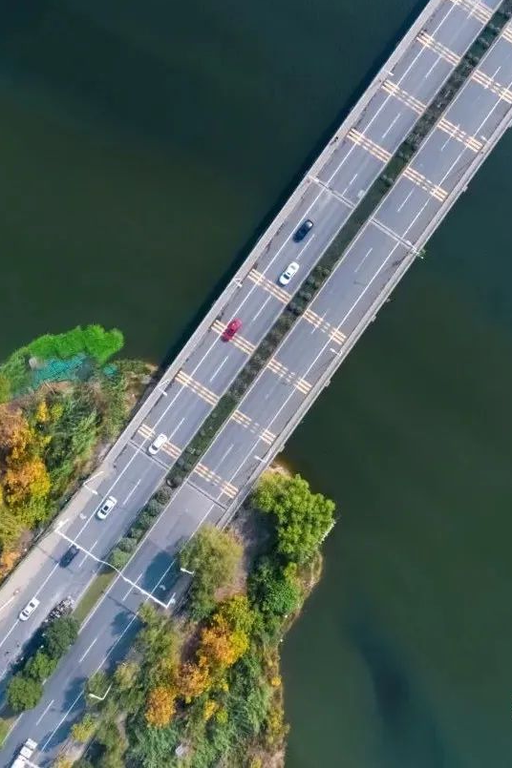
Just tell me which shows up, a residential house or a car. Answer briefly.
car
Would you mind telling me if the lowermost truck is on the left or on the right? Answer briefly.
left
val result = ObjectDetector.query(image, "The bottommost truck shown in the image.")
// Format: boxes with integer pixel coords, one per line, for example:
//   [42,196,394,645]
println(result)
[8,729,45,768]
